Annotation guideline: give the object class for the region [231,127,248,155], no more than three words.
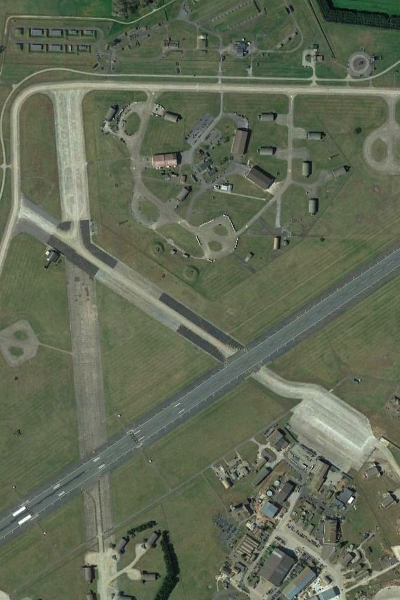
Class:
hangar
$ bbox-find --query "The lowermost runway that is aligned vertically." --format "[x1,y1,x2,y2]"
[66,258,115,554]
